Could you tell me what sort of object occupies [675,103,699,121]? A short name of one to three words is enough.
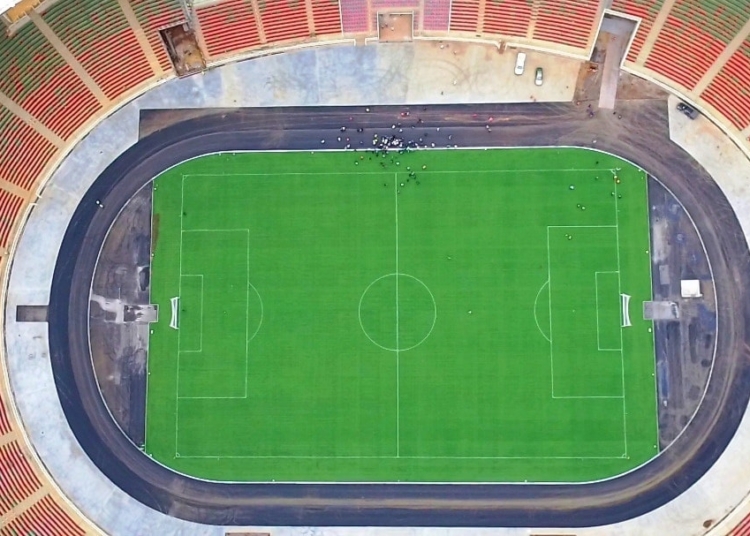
vehicle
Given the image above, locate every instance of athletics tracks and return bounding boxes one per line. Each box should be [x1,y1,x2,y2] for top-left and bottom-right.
[49,107,750,528]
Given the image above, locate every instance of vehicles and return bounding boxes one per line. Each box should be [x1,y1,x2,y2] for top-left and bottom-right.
[514,52,525,75]
[534,67,543,85]
[675,103,699,121]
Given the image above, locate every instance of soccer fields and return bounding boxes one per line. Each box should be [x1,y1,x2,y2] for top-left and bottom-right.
[145,148,659,482]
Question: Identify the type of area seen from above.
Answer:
sports ground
